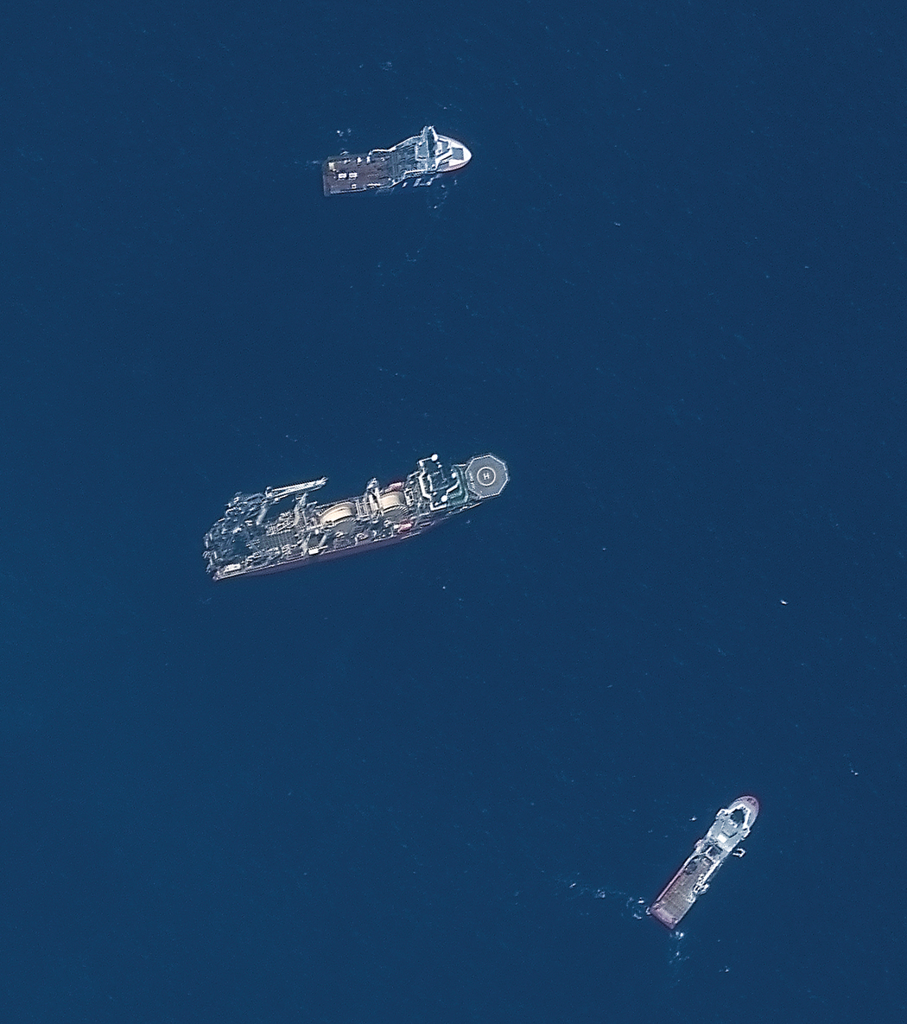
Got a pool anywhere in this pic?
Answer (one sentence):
No, the photo shows no pool.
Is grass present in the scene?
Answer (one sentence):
No, there is no grass in the image.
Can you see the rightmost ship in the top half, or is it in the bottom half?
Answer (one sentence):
It is in the bottom half that the rightmost ship appears.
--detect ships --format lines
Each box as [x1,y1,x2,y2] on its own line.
[648,796,760,932]
[202,453,510,581]
[321,126,472,199]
